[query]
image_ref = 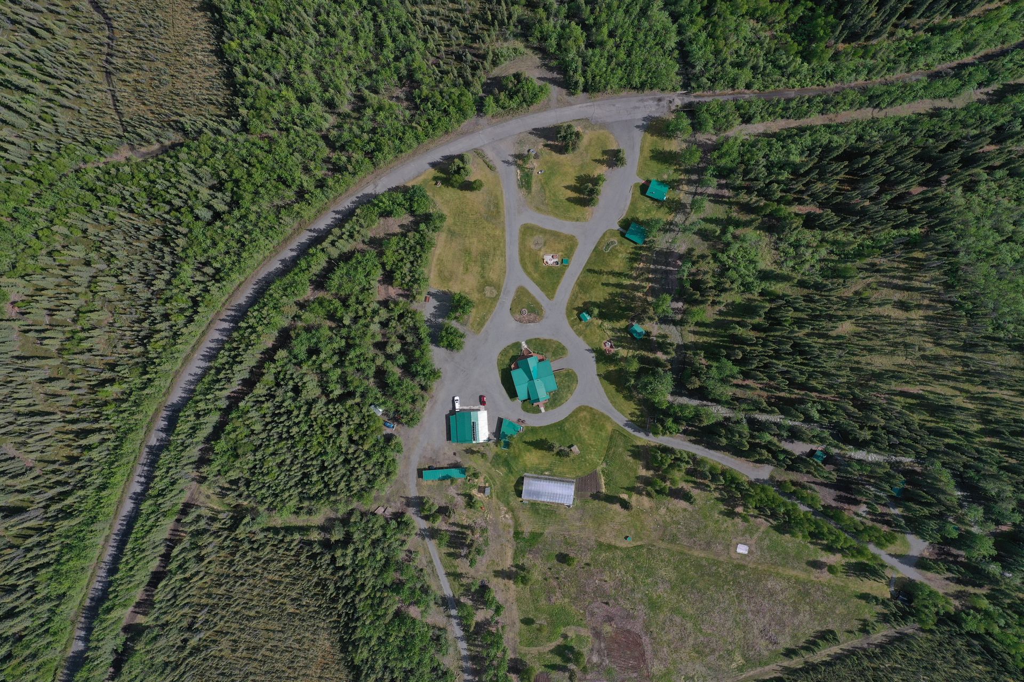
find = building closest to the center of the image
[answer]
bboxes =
[511,348,558,408]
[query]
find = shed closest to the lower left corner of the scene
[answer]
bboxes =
[422,466,466,481]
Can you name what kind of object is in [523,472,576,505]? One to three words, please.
greenhouse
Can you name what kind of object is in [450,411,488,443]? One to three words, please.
building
